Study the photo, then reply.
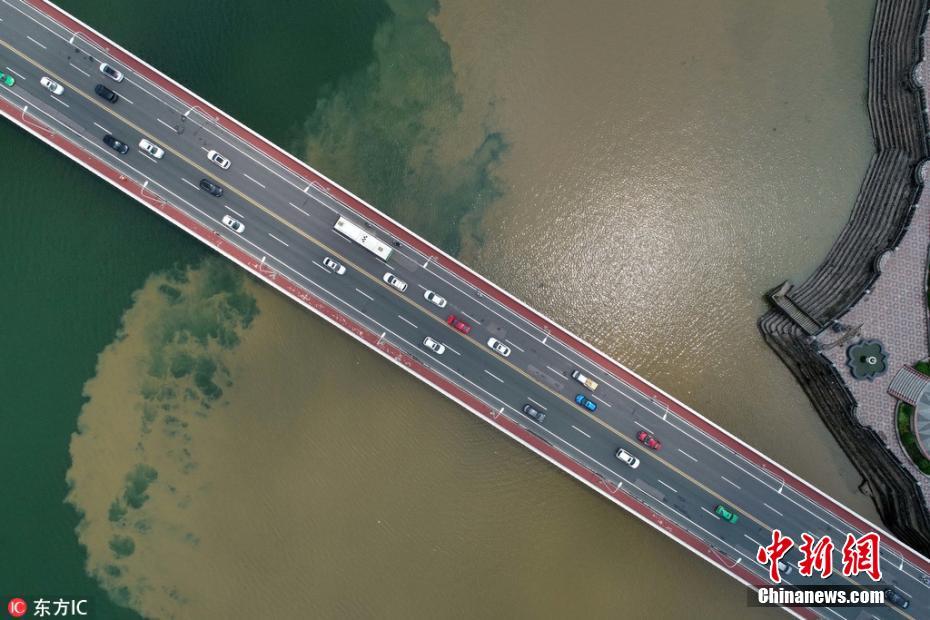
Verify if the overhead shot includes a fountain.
Yes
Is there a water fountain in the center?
No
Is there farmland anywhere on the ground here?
No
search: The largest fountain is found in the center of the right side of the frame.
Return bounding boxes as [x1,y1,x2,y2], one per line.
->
[848,340,889,379]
